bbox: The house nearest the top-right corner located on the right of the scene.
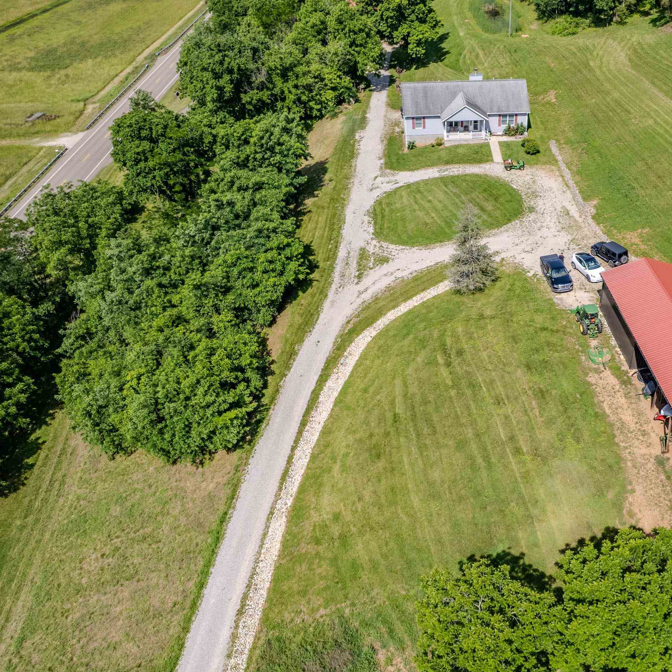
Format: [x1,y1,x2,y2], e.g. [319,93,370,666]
[402,64,529,148]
